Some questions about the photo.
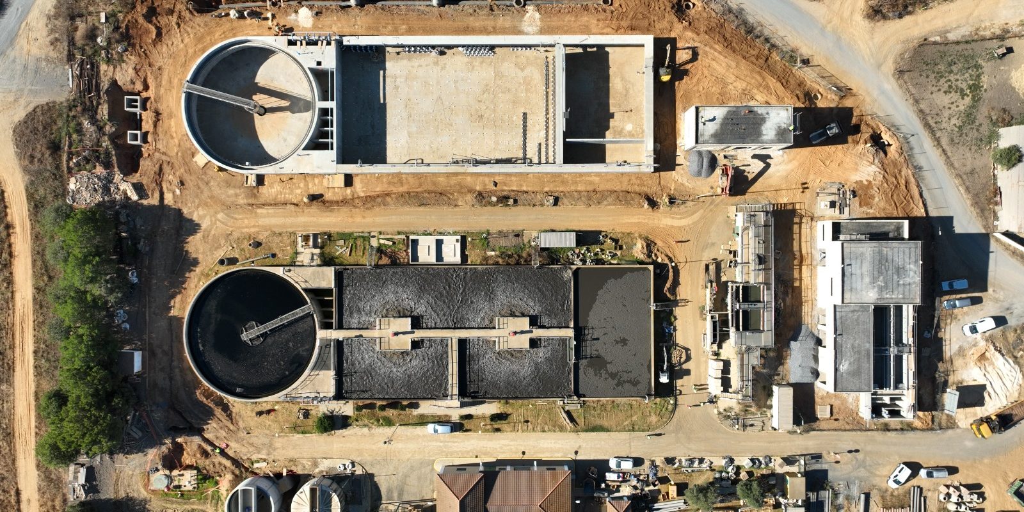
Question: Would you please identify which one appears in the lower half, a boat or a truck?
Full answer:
Looking in the lower half, you will find a truck.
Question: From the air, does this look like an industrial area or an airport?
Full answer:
It's an industrial area.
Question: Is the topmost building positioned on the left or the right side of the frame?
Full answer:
It is on the right.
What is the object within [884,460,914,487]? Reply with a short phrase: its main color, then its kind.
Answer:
white vehicle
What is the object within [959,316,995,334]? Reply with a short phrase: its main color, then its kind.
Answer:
white car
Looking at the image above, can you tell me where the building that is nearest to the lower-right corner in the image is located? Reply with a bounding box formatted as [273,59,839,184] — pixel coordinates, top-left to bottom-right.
[935,386,959,411]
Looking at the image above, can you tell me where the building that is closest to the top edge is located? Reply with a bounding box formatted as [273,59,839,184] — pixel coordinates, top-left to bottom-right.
[685,106,799,152]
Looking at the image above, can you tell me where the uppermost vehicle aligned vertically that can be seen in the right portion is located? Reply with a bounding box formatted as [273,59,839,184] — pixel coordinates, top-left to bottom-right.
[657,47,672,82]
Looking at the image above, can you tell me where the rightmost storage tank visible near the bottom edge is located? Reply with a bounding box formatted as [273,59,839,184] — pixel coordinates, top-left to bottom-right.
[290,477,347,512]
